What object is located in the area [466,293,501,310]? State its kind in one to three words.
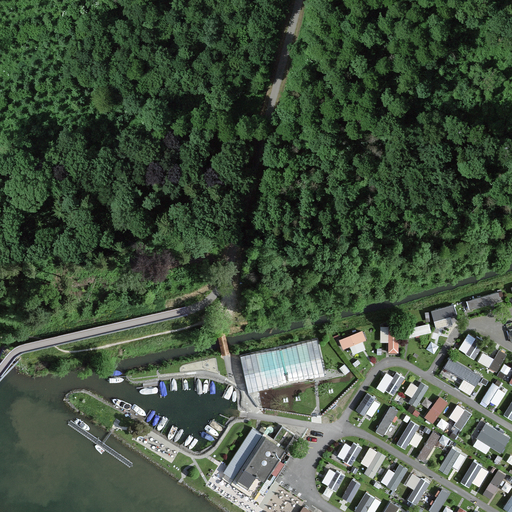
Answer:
shed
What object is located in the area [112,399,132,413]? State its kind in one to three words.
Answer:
boat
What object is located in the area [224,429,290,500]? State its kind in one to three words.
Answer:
building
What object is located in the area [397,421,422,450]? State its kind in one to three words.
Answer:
house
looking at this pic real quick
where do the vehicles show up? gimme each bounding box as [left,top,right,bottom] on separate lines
[307,436,318,442]
[310,430,324,437]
